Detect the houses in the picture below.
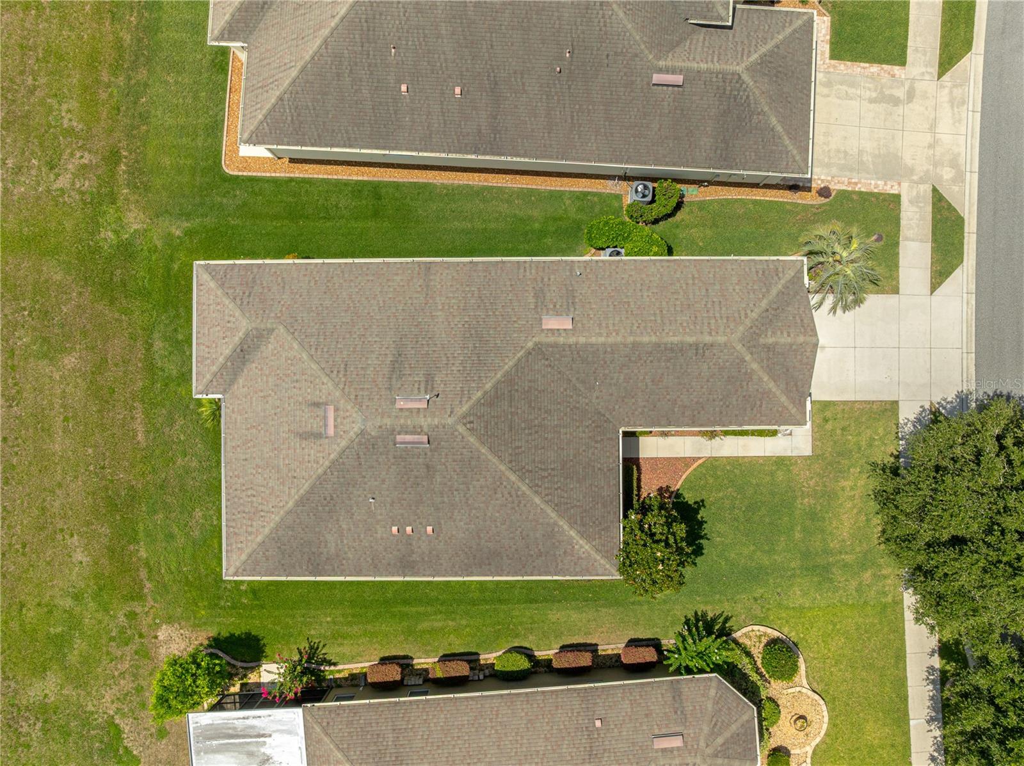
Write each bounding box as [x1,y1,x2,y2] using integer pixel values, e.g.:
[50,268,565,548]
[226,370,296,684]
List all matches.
[193,256,820,581]
[185,666,761,766]
[207,0,817,190]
